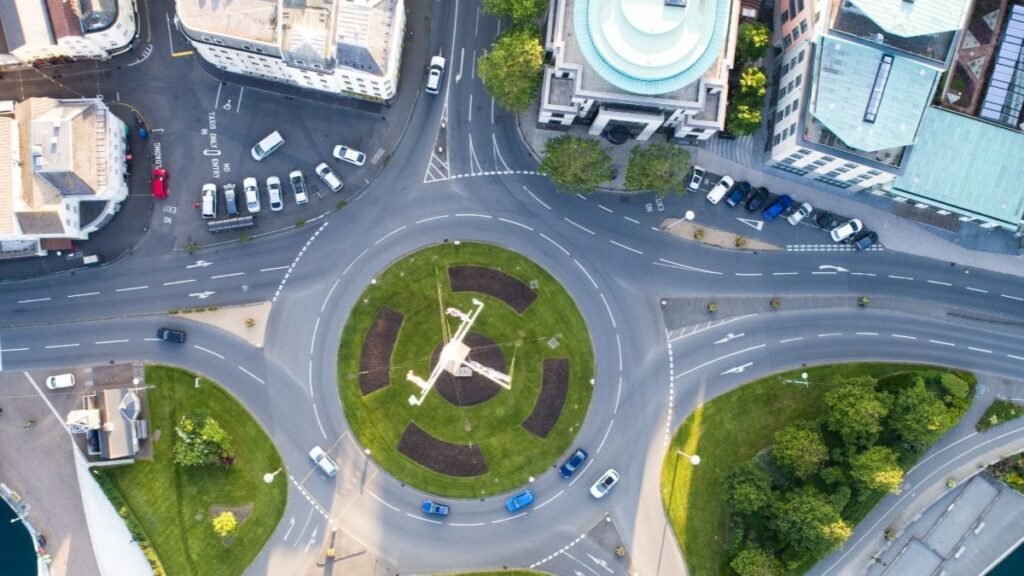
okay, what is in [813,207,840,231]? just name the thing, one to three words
car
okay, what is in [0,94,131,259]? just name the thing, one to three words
building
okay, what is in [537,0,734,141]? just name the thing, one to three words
building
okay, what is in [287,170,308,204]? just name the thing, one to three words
car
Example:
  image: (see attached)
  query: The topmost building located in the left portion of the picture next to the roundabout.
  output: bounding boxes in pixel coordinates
[172,0,411,105]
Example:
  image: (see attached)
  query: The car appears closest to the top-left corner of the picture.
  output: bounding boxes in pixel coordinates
[149,166,167,198]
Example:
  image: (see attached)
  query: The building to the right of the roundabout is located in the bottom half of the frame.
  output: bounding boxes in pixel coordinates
[831,464,1024,576]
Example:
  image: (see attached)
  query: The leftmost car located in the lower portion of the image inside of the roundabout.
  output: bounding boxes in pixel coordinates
[307,445,339,479]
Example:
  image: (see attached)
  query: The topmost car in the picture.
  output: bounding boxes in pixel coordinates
[425,56,444,91]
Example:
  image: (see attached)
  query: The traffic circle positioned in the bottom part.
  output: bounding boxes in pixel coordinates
[273,178,660,567]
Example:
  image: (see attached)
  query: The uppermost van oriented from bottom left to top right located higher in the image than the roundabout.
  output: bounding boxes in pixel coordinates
[248,128,286,161]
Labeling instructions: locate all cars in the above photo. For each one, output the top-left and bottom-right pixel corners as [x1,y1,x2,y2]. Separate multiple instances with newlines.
[420,501,449,517]
[763,194,794,220]
[689,165,707,193]
[503,490,536,513]
[149,166,167,198]
[197,182,216,218]
[813,207,840,231]
[589,468,622,501]
[854,229,881,252]
[263,176,282,211]
[219,183,239,214]
[330,143,366,166]
[425,56,444,91]
[745,184,773,214]
[726,178,753,208]
[788,201,814,226]
[832,217,865,244]
[706,173,736,204]
[559,448,588,480]
[287,170,308,204]
[312,161,344,193]
[307,445,339,479]
[240,176,260,212]
[153,326,187,344]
